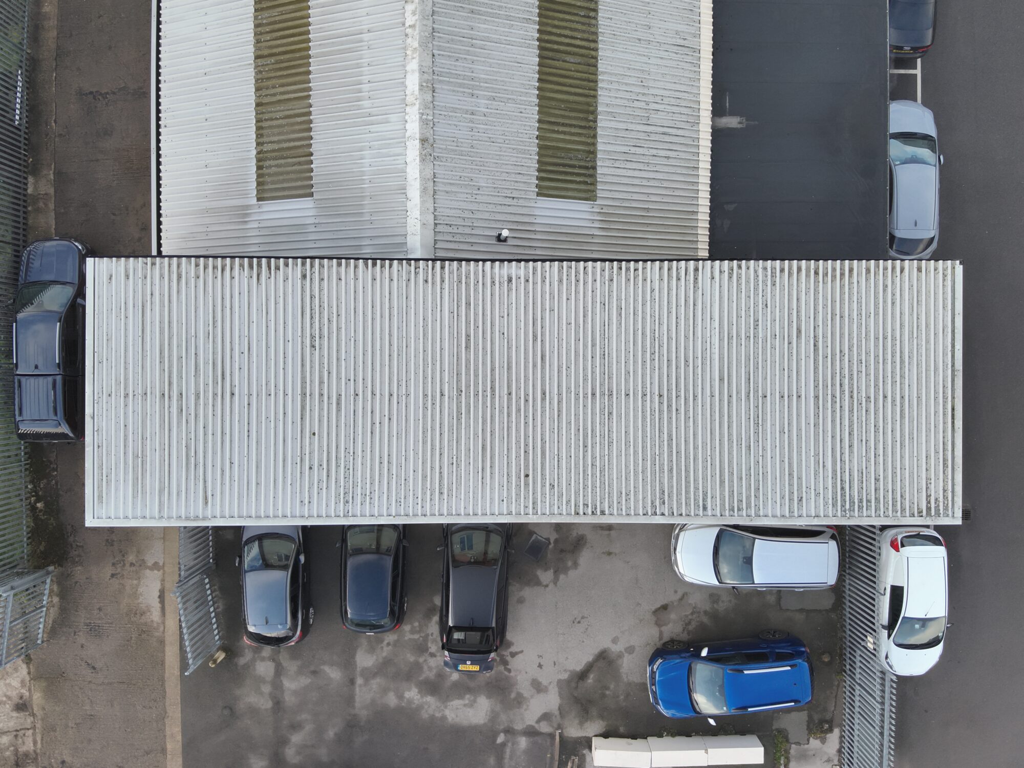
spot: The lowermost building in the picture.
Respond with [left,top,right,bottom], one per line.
[86,254,963,528]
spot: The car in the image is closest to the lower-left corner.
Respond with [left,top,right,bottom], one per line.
[227,527,317,648]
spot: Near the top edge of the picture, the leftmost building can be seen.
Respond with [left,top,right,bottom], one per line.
[152,0,715,257]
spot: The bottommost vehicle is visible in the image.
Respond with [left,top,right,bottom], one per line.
[647,630,817,729]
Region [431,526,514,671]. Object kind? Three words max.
car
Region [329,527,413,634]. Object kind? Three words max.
car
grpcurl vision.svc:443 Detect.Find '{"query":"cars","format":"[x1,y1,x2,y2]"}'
[889,99,949,258]
[431,526,514,671]
[890,0,937,58]
[329,527,413,634]
[867,528,956,676]
[672,524,844,599]
[227,527,317,648]
[647,630,817,729]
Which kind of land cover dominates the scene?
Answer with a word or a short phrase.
buildings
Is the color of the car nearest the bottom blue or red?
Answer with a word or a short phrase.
blue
